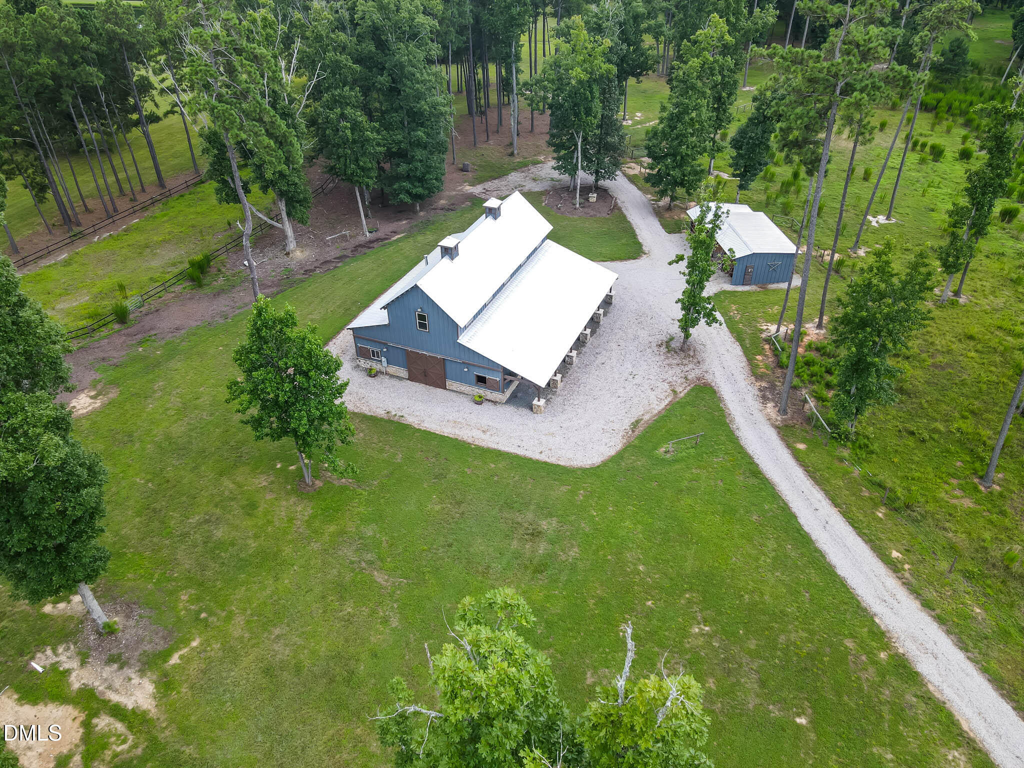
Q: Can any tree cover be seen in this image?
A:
Yes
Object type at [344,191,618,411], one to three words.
barn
